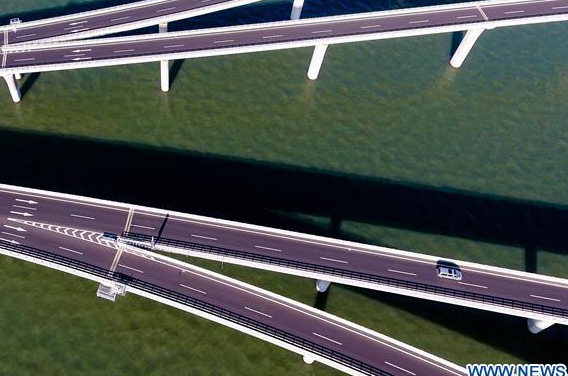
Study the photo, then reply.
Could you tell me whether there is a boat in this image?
No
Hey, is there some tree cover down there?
No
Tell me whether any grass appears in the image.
No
